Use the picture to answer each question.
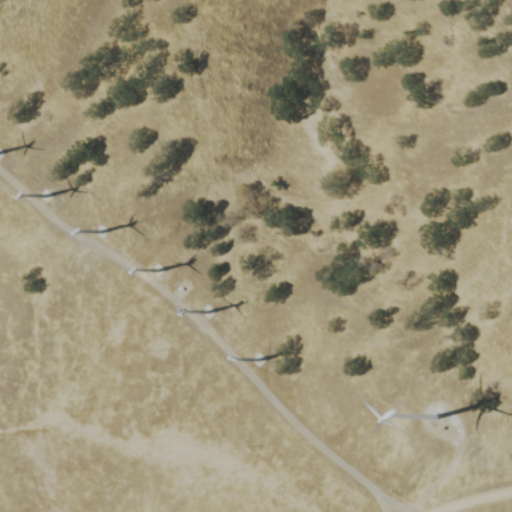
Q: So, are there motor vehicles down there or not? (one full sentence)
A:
No, no motor vehicle is visible in the scene.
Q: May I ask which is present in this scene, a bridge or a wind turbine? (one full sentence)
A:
Of the two, only a wind turbine appears.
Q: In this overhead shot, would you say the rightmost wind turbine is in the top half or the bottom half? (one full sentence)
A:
Seen from above, the rightmost wind turbine lies in the bottom half of the view.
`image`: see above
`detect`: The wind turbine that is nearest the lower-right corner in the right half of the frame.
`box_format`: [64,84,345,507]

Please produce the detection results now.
[356,390,442,447]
